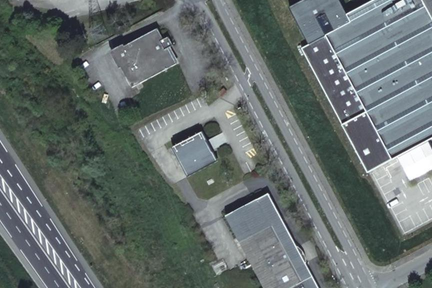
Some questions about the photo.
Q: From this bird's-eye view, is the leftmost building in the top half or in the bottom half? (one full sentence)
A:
Seen from above, the leftmost building lies in the top half of the view.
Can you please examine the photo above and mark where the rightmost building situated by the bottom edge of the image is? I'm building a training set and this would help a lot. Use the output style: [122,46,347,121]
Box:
[225,194,318,288]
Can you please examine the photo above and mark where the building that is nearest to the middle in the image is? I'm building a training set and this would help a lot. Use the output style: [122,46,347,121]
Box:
[172,132,216,176]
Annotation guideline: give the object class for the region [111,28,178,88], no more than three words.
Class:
building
